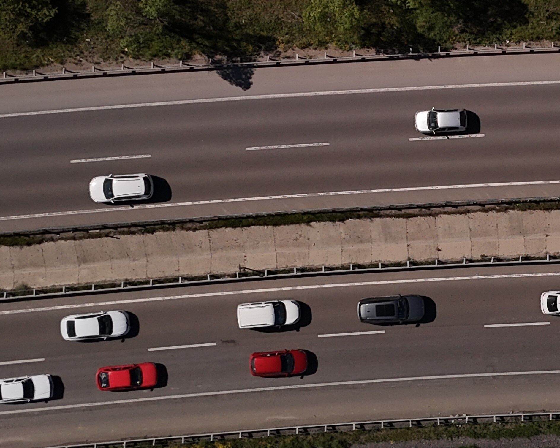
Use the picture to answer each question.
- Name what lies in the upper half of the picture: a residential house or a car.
car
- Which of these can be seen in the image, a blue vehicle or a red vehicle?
red vehicle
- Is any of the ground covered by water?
No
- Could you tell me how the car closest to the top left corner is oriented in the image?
from side to side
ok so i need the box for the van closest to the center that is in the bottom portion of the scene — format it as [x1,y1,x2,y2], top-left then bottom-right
[237,298,302,329]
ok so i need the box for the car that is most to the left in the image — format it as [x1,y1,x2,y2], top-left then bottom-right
[0,374,55,404]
